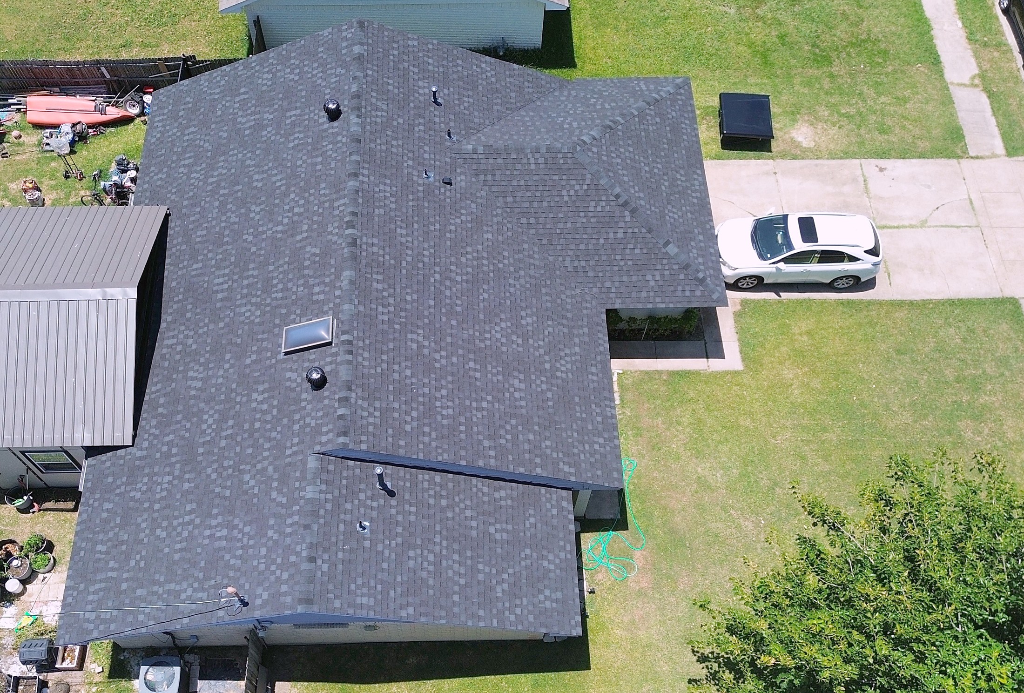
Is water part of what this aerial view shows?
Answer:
No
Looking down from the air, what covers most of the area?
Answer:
buildings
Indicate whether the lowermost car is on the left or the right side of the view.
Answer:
right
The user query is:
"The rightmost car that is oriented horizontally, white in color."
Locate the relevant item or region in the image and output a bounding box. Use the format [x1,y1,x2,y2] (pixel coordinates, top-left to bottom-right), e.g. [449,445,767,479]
[716,207,886,289]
